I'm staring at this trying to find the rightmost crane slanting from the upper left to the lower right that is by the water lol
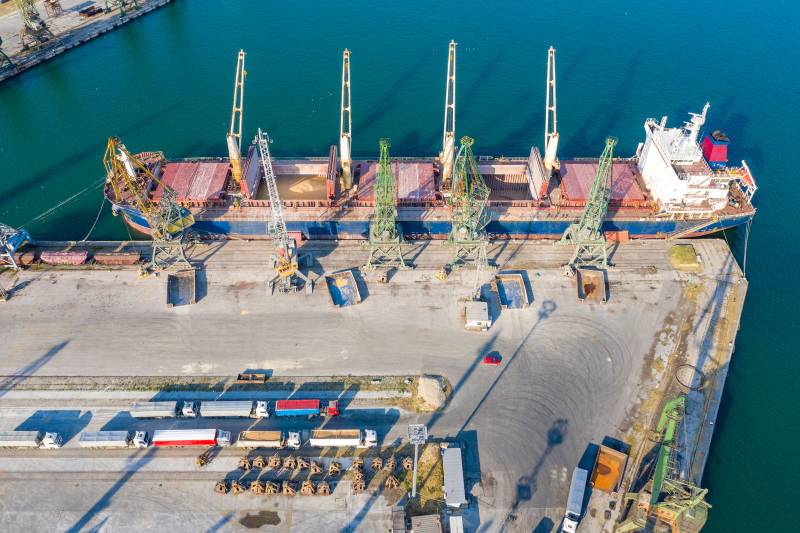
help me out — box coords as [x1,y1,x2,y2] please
[108,132,201,268]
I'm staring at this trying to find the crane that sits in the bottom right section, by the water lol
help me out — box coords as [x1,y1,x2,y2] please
[618,390,705,533]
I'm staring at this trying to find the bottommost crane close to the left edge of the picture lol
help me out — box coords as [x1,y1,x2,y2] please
[0,205,41,268]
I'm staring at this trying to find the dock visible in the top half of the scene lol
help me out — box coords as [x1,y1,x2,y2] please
[0,0,184,87]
